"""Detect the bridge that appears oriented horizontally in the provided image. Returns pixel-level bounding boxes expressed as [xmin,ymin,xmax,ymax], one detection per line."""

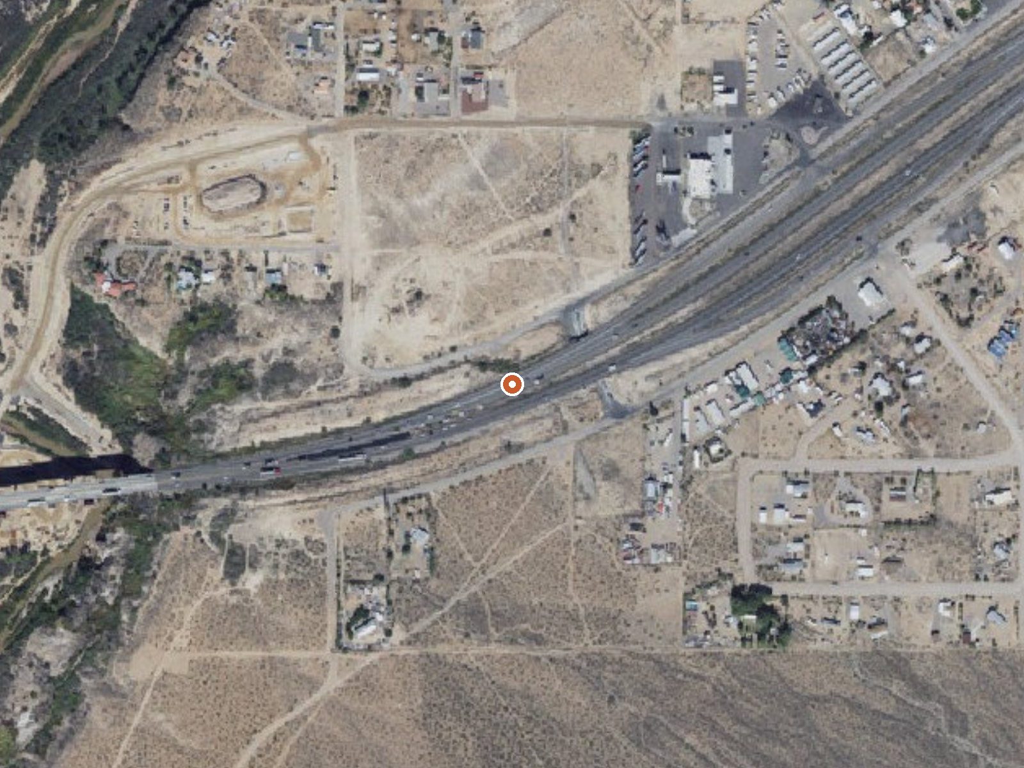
[0,471,159,510]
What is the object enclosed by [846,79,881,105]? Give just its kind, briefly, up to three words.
shed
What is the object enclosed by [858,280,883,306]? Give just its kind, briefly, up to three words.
building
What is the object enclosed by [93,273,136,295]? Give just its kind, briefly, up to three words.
house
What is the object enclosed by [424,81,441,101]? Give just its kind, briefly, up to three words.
house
